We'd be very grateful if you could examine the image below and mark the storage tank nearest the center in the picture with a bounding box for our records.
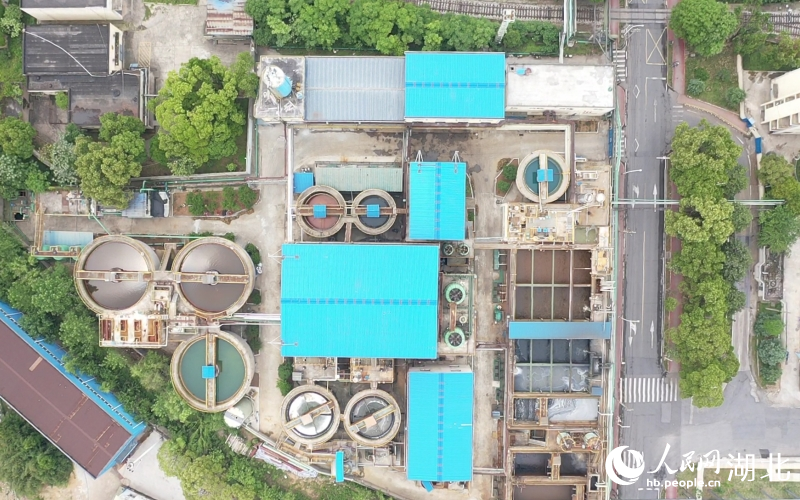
[351,188,398,235]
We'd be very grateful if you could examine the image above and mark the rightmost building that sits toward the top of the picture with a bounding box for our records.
[762,66,800,133]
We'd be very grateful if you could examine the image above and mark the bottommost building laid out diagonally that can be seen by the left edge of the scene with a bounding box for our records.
[0,305,144,481]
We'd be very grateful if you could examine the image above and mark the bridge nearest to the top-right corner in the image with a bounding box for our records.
[603,7,682,27]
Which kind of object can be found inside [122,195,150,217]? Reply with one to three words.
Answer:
shed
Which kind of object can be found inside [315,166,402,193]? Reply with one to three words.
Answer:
shed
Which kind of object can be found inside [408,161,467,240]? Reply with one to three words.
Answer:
building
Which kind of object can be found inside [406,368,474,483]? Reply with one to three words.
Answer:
building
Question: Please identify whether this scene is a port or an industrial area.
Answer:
industrial area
